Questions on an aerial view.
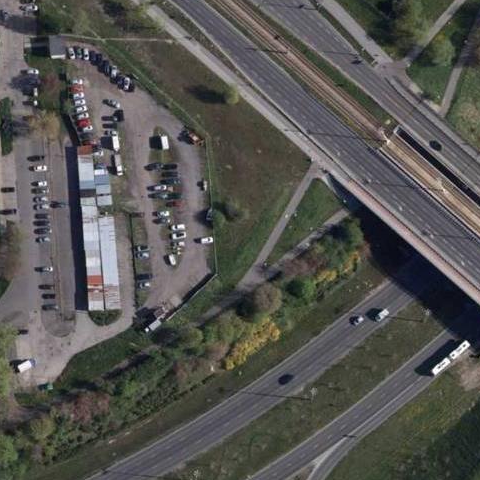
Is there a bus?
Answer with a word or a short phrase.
Yes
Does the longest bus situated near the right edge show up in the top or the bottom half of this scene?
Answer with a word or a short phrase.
bottom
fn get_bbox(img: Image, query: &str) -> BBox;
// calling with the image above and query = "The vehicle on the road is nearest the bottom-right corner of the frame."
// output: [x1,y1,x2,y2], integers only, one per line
[429,339,472,378]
